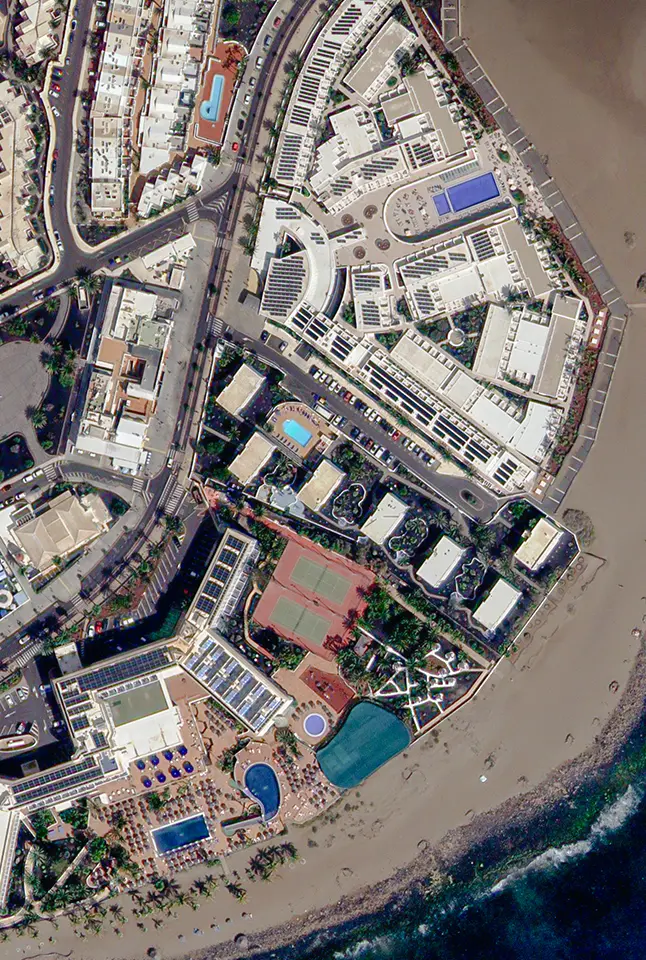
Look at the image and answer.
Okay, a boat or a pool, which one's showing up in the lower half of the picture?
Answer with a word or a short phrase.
pool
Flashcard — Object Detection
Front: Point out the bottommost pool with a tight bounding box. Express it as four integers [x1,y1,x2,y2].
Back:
[152,814,210,856]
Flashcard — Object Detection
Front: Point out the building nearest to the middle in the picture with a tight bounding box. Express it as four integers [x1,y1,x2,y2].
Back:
[297,460,346,515]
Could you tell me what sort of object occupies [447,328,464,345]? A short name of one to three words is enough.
fountain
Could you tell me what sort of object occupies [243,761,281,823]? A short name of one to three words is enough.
swimming pool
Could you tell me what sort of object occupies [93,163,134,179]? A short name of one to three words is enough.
house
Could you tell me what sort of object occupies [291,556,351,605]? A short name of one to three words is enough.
tennis court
